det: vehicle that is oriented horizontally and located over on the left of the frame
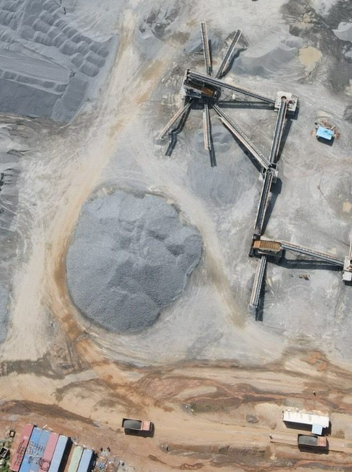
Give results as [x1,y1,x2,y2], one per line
[122,420,155,433]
